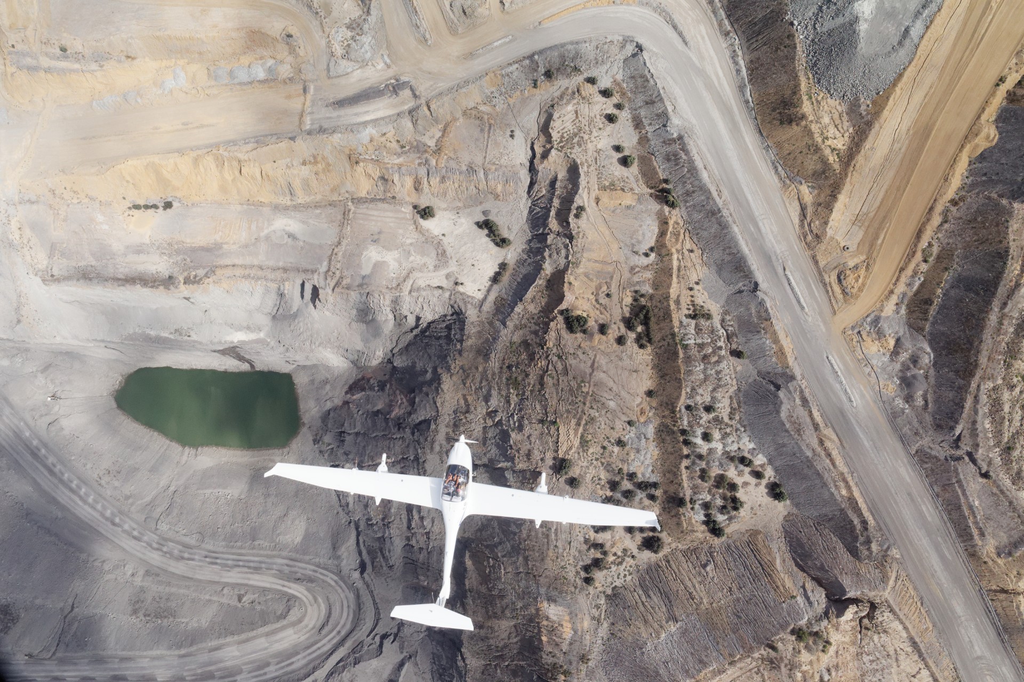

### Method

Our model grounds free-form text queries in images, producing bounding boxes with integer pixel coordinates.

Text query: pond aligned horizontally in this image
[116,367,300,449]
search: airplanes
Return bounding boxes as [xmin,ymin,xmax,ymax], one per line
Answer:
[263,436,660,631]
